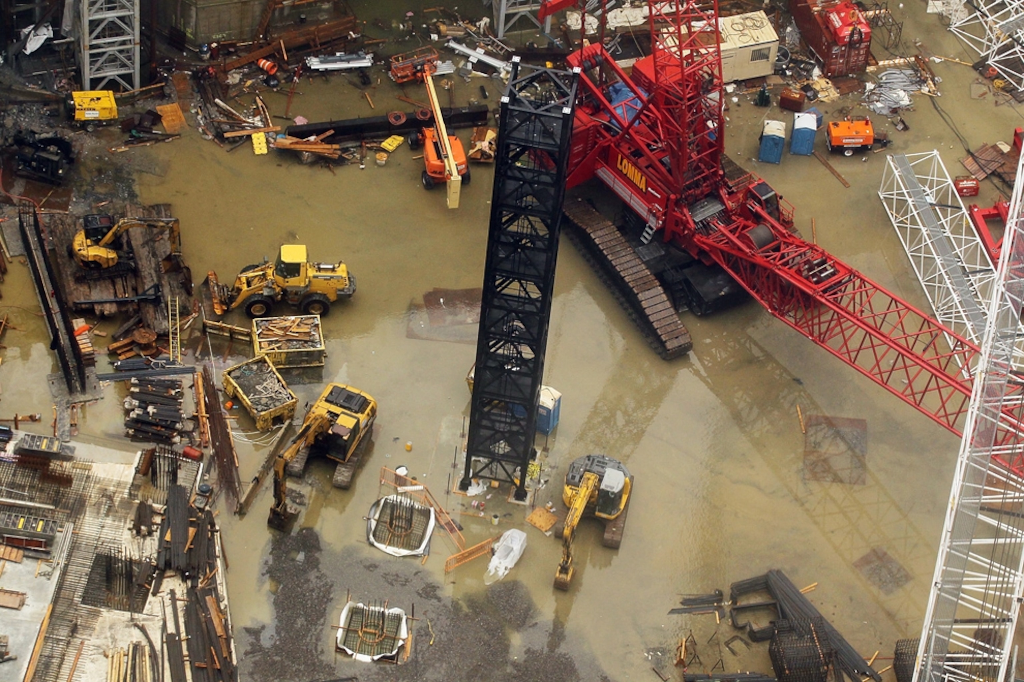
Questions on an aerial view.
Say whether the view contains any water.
Yes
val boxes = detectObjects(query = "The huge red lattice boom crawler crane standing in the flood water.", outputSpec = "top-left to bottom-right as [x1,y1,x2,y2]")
[530,0,1024,478]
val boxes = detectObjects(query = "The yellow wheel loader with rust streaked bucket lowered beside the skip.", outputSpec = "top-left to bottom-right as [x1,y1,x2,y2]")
[198,250,355,323]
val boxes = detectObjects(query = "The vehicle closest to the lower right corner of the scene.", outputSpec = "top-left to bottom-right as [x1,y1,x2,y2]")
[550,442,637,586]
